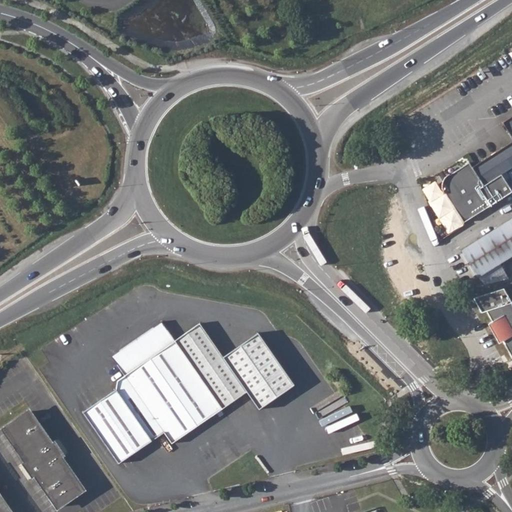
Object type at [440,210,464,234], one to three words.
tent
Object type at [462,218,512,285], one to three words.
building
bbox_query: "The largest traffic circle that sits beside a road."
[127,66,327,266]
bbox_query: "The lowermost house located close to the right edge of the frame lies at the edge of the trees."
[474,289,512,360]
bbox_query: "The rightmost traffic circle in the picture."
[412,394,504,486]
